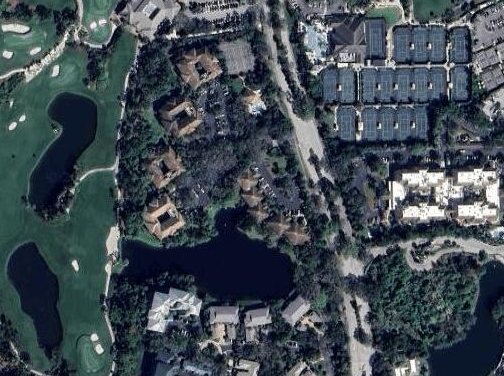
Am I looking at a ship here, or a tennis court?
tennis court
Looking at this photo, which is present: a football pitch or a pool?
pool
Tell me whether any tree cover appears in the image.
Yes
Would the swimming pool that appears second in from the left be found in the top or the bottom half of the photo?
top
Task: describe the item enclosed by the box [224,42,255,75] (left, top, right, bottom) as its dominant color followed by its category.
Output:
gray tennis court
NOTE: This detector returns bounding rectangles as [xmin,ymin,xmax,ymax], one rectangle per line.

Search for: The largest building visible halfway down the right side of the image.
[387,166,499,225]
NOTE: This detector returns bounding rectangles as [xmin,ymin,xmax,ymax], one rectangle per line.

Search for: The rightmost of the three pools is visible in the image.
[490,227,504,240]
